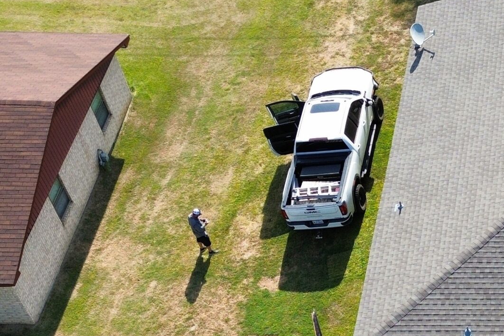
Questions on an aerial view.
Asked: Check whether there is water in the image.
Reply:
No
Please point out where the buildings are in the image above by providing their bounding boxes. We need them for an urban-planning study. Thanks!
[353,0,504,336]
[0,32,127,325]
